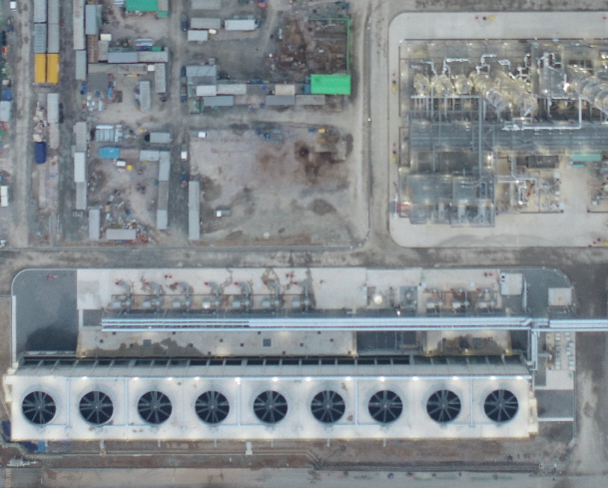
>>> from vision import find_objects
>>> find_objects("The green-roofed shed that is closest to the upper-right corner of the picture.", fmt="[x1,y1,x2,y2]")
[310,73,350,95]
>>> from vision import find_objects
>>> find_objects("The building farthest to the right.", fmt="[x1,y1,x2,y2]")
[547,285,573,306]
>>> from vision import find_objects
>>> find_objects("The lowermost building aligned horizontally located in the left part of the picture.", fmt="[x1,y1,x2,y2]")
[105,227,137,240]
